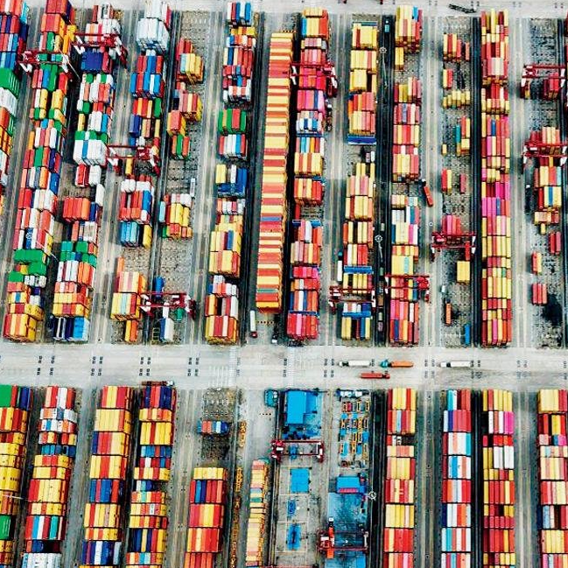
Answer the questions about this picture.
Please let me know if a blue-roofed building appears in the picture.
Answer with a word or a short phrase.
Yes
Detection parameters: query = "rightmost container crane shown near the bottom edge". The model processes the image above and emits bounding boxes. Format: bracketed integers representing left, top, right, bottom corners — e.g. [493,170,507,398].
[315,525,368,558]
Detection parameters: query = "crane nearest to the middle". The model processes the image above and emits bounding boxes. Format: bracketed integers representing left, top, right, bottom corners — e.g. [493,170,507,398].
[326,285,375,317]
